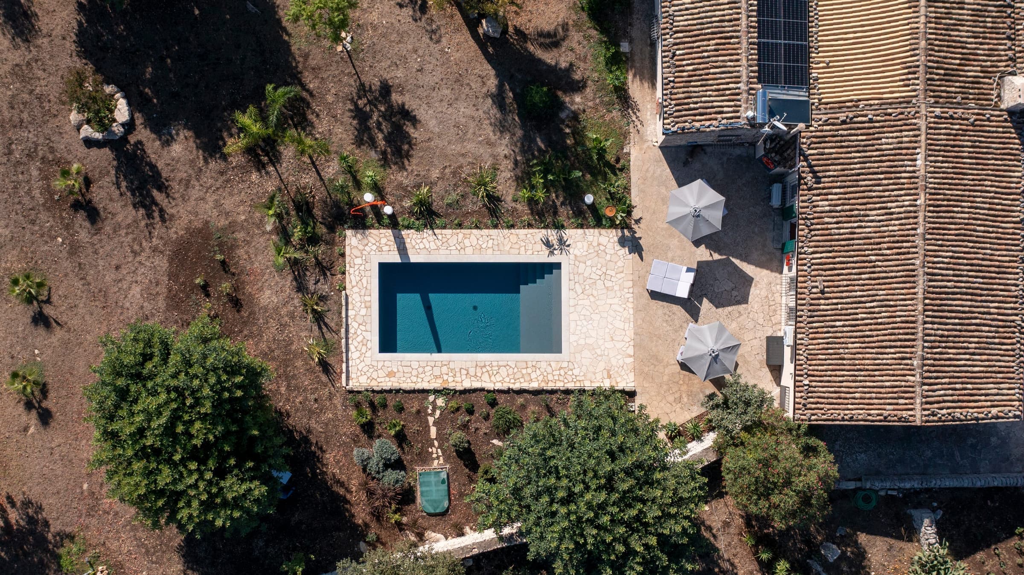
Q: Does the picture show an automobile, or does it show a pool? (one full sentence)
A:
This aerial view contains a pool.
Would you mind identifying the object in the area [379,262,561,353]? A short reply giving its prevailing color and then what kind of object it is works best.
blue swimming pool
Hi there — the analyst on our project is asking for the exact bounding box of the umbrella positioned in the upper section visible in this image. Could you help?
[666,179,725,241]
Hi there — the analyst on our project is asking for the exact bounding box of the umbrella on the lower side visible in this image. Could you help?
[681,321,741,381]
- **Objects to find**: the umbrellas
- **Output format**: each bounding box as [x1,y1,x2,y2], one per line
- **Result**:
[681,321,741,381]
[666,179,725,241]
